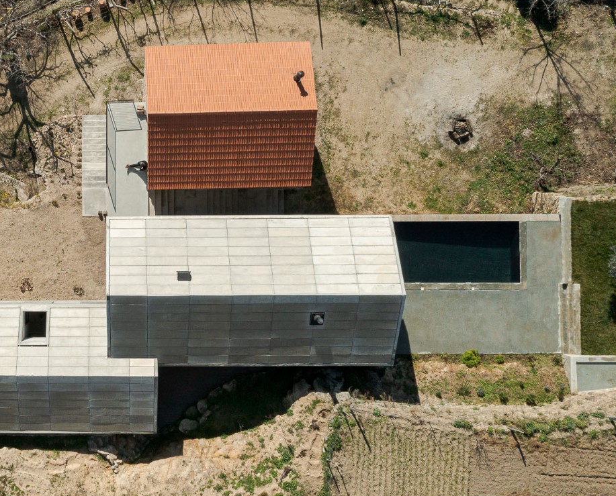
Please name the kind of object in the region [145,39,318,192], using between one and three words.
house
